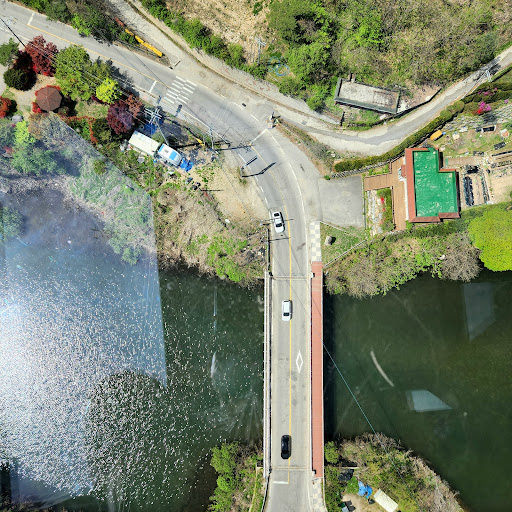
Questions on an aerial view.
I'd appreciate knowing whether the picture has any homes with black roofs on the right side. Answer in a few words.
No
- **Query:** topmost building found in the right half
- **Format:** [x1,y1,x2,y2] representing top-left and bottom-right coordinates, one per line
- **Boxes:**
[336,77,400,114]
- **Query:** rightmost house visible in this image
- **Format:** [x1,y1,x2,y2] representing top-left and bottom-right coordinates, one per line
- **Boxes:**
[396,148,458,224]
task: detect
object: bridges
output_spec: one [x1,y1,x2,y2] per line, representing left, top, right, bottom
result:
[263,262,326,478]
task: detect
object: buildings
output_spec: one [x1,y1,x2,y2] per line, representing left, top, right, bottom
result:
[336,77,400,114]
[396,148,458,224]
